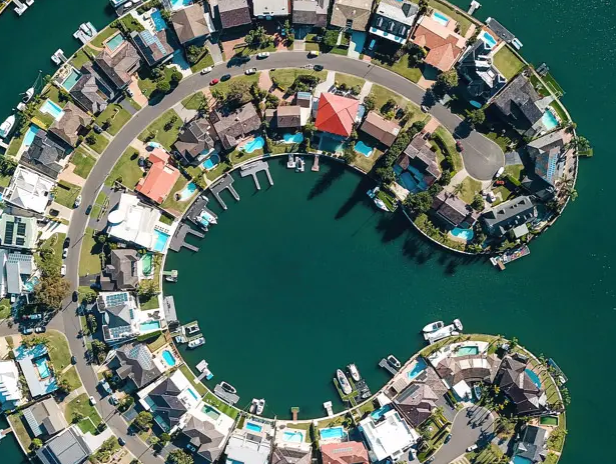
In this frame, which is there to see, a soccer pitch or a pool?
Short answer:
pool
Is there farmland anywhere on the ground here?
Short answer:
No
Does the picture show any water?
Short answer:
Yes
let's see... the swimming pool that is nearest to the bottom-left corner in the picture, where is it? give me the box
[37,354,57,382]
